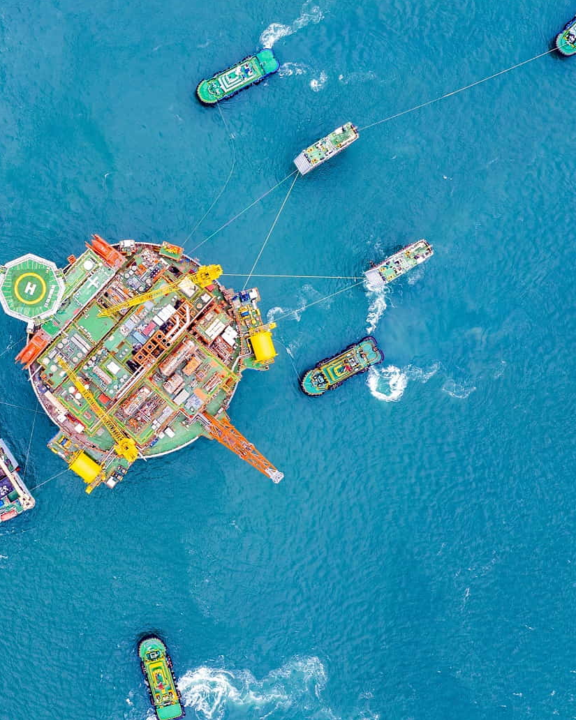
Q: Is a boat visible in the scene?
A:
Yes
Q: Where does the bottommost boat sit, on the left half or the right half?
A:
left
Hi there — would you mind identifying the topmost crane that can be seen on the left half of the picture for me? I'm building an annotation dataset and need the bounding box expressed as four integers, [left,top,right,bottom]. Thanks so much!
[98,258,232,317]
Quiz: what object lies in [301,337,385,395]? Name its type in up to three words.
boat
